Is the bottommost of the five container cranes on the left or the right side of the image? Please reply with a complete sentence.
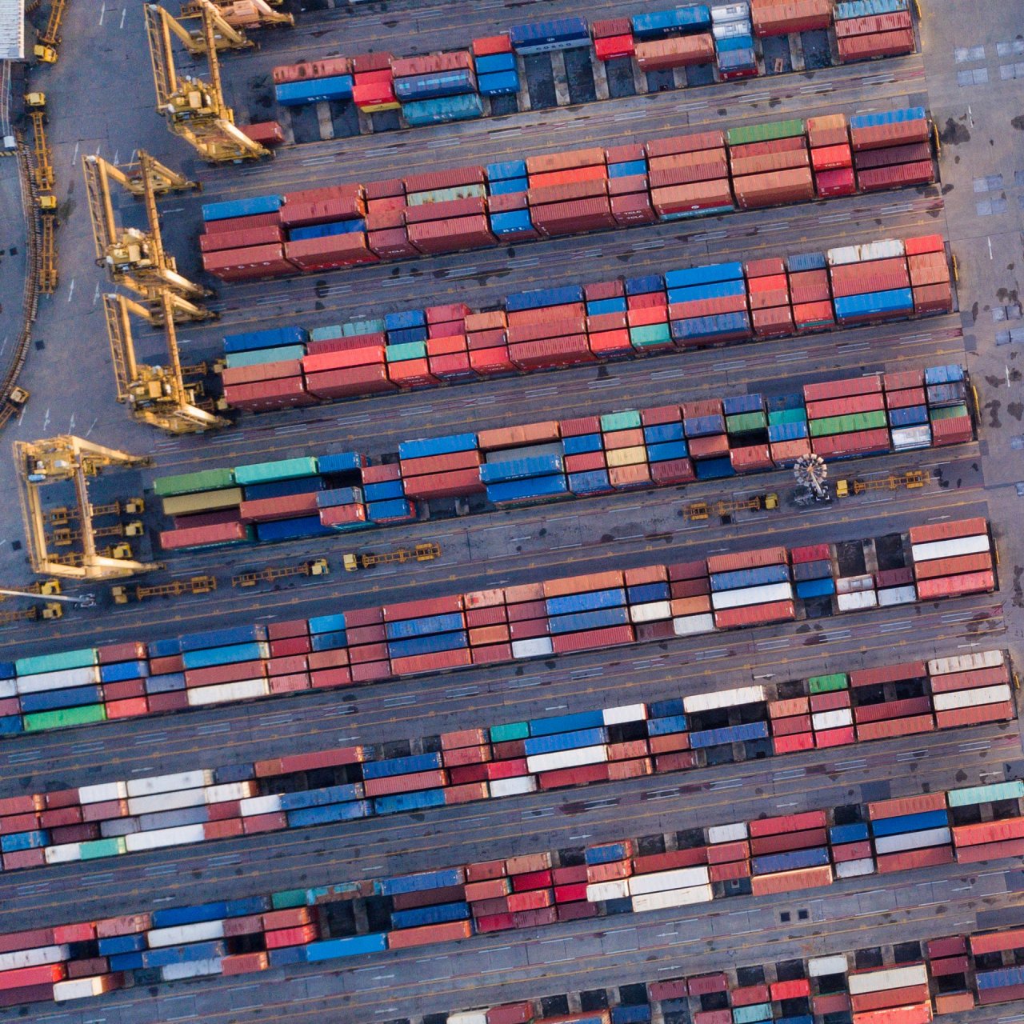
The bottommost of the five container cranes is on the left side of the image.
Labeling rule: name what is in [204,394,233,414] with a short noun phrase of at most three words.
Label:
vehicle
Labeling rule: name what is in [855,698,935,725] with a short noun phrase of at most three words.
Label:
shipping container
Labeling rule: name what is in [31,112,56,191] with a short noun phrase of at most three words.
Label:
trailer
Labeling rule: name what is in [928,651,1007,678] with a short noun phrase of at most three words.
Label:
shipping container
